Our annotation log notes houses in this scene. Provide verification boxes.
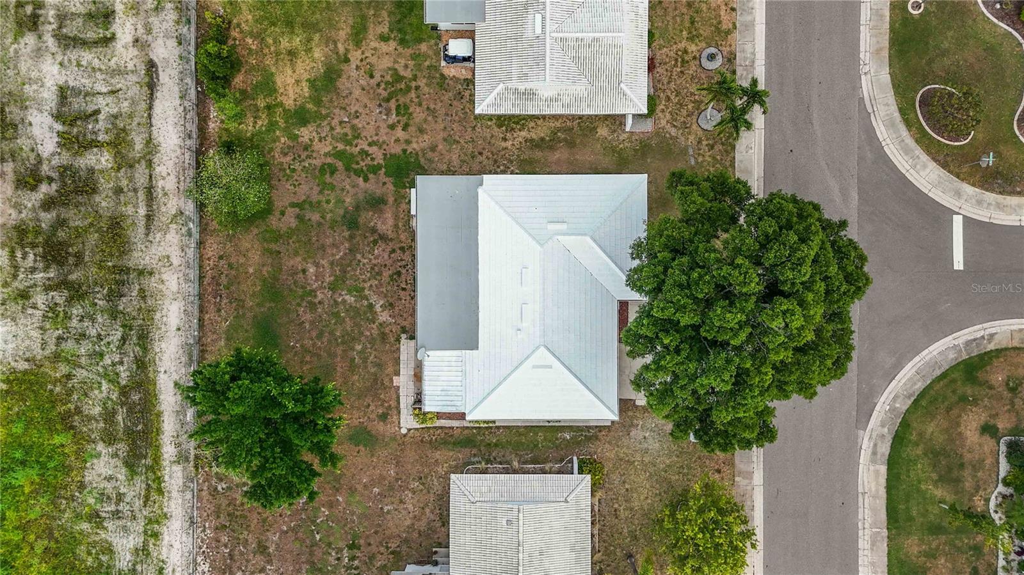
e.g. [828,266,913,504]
[392,473,592,575]
[424,0,649,115]
[414,173,649,422]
